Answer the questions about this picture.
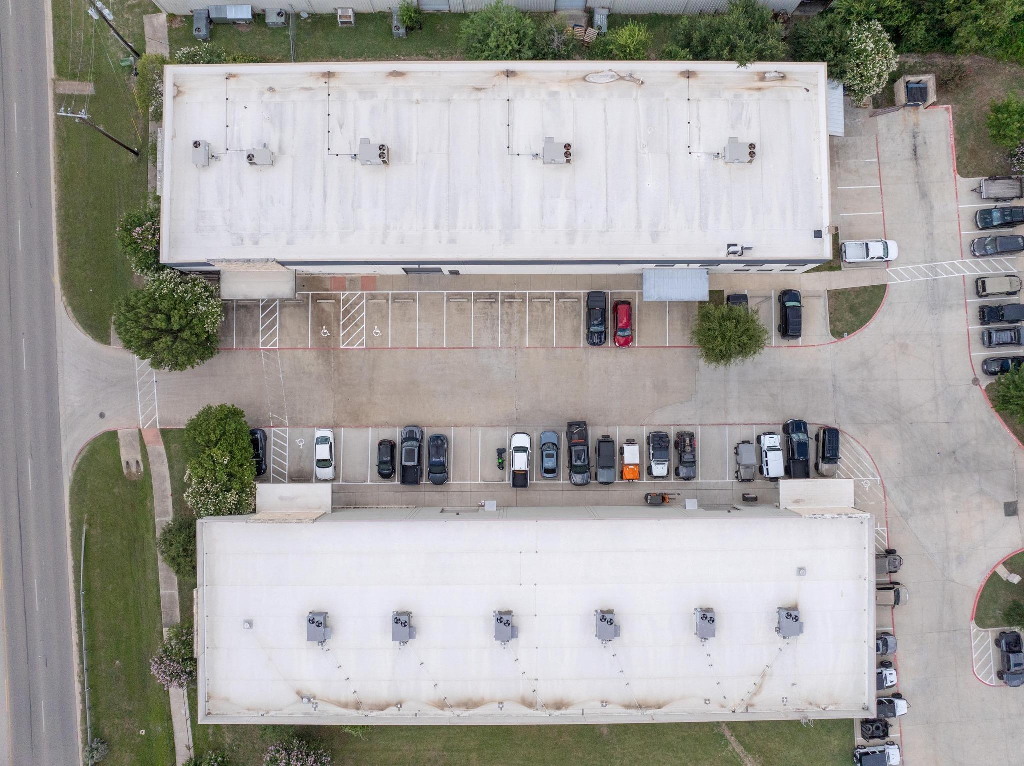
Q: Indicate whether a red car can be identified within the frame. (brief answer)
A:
Yes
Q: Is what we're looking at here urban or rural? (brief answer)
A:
urban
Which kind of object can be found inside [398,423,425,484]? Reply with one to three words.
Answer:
truck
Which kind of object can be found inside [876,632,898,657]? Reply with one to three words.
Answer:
car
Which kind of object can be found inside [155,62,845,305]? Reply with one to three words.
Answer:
building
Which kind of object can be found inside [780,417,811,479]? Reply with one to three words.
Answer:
truck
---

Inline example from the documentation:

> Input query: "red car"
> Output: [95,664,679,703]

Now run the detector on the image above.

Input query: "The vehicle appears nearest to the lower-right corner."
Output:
[992,628,1024,688]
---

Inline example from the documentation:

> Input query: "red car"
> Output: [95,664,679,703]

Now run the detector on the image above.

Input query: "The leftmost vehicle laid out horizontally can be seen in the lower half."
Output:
[643,492,675,506]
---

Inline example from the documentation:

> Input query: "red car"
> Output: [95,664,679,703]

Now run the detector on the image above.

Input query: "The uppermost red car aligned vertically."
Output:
[612,300,635,348]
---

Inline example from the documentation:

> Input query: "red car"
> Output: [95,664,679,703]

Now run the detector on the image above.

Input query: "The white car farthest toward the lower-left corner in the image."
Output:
[313,430,337,481]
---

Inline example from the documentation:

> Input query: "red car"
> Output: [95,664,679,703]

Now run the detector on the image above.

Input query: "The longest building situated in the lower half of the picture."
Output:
[191,479,877,724]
